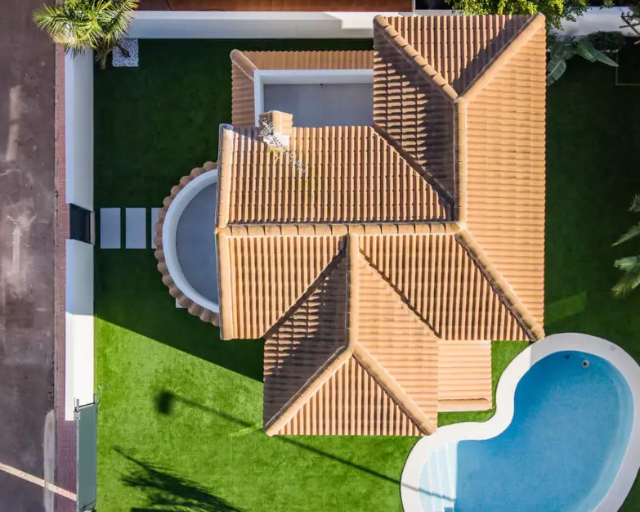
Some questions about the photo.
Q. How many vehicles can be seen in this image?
0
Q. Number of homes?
1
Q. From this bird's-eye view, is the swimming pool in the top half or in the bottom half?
bottom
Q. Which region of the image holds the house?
center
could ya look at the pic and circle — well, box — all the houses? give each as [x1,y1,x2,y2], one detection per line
[152,9,553,443]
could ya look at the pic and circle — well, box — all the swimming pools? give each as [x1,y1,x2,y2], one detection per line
[400,333,640,512]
